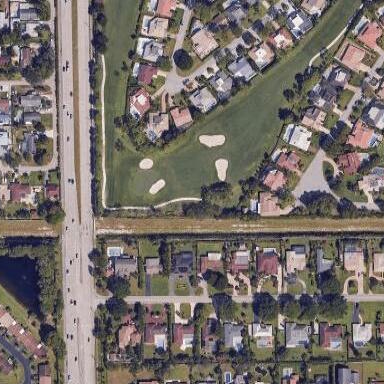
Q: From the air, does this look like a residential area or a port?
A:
residential area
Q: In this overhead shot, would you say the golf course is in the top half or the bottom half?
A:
top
